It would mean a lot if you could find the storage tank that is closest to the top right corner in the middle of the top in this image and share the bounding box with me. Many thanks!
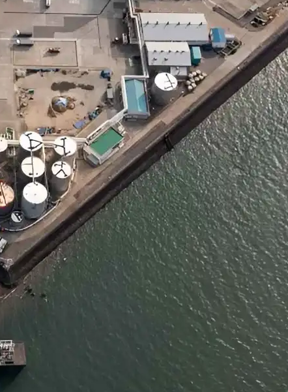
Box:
[149,72,178,106]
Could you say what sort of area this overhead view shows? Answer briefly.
industrial area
